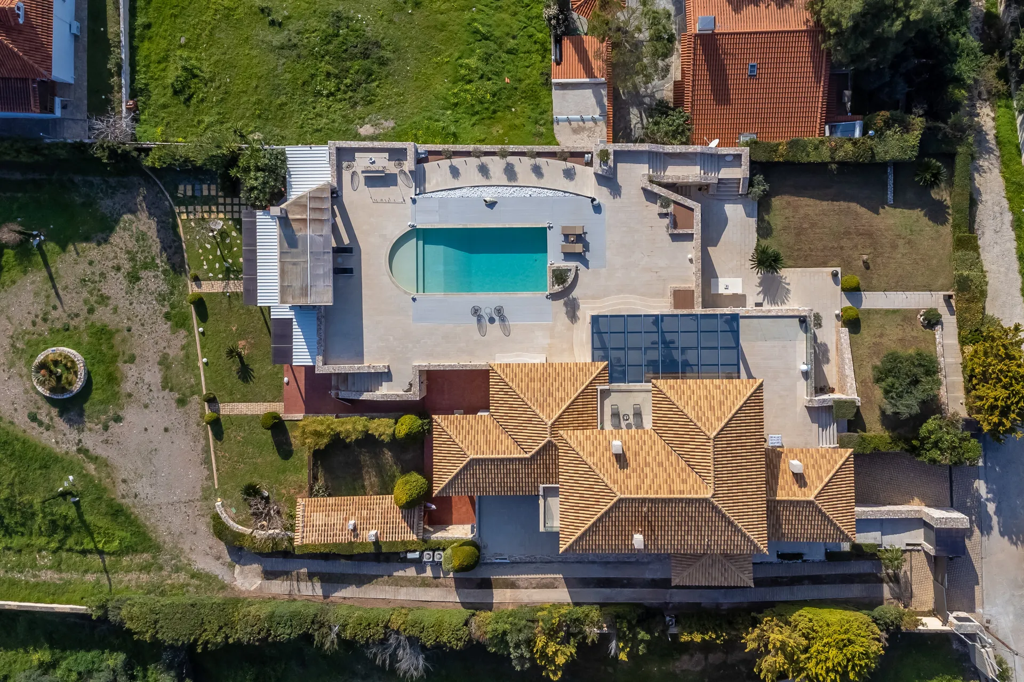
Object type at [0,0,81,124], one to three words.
house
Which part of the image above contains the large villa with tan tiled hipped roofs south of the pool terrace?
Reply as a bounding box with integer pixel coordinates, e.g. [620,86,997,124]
[431,361,858,589]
